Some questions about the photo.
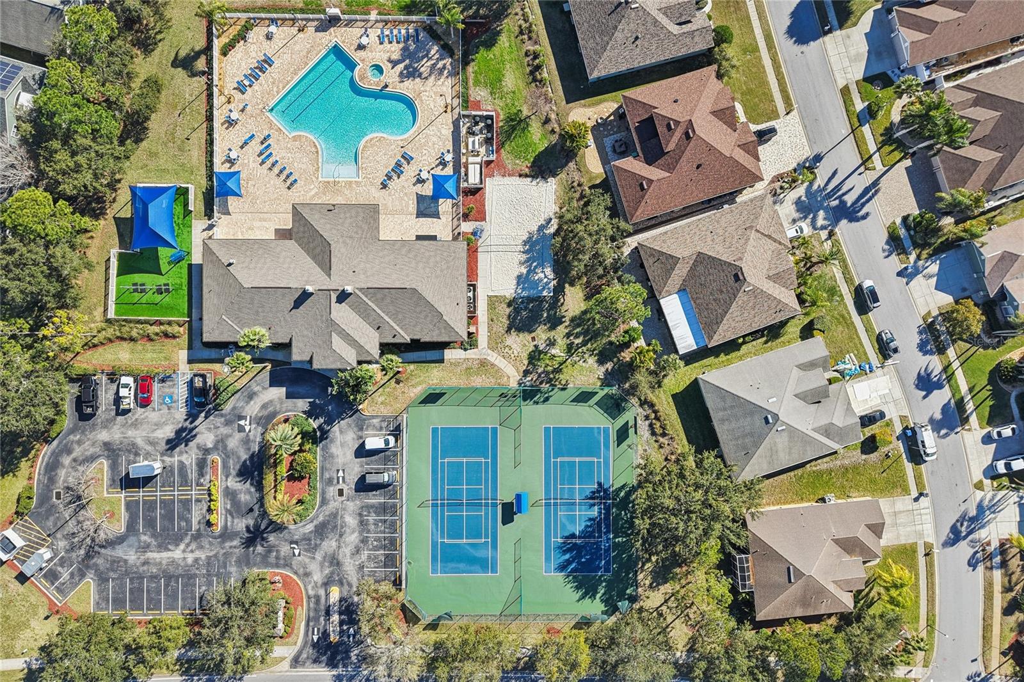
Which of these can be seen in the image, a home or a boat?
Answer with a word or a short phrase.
home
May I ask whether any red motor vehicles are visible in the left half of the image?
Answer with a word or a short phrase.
Yes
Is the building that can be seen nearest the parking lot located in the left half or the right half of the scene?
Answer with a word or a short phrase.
left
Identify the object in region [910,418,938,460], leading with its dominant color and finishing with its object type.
white vehicle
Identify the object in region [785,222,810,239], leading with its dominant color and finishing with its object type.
white car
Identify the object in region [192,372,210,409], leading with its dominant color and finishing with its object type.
black vehicle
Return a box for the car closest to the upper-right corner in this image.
[753,124,780,142]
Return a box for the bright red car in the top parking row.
[138,376,155,405]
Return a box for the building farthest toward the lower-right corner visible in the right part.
[737,498,885,620]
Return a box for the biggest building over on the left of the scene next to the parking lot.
[202,204,467,368]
